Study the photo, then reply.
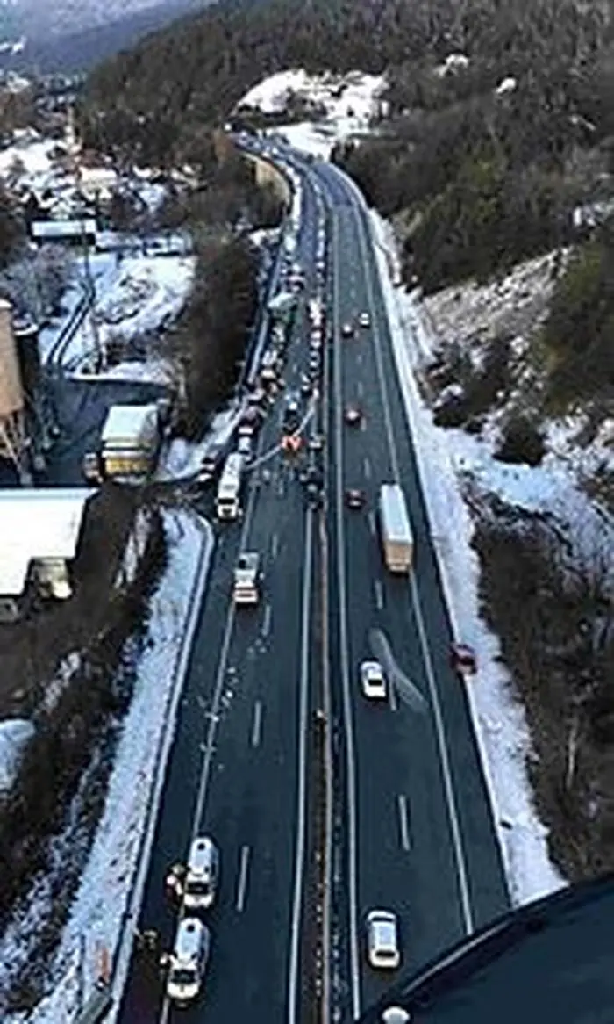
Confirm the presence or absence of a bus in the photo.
Yes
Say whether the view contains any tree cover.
Yes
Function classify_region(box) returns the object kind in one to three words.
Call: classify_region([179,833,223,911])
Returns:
van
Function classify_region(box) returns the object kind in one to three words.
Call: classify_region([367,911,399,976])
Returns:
car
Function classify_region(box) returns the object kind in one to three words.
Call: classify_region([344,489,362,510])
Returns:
car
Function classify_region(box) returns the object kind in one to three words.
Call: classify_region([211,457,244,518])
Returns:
bus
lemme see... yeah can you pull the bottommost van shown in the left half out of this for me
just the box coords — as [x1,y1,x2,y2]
[164,914,212,1005]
